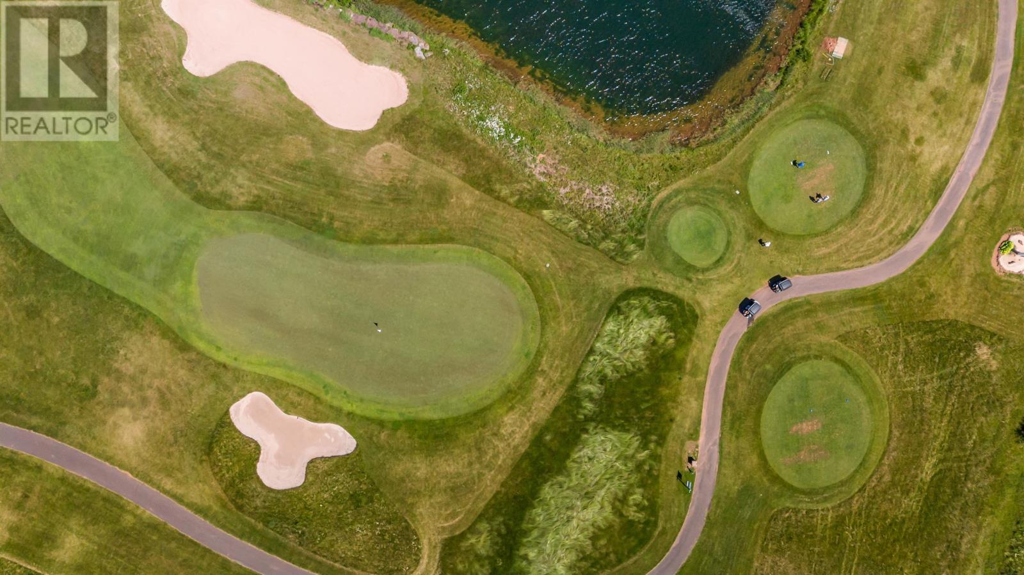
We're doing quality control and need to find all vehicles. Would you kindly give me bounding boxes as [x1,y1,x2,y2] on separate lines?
[771,278,792,292]
[742,300,762,318]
